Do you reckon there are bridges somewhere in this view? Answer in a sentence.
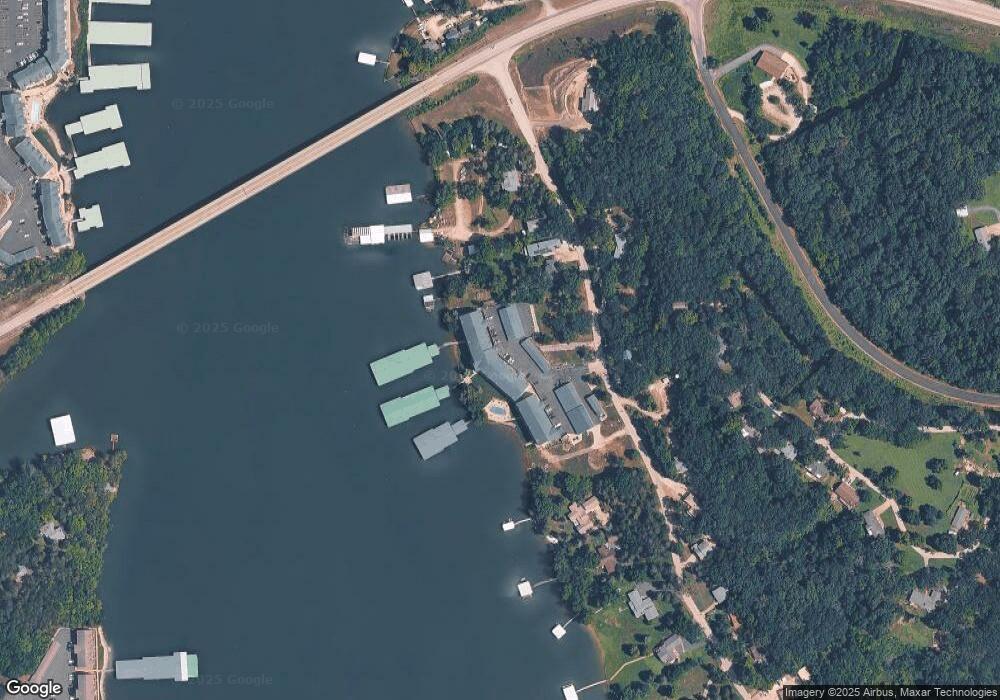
Yes, the image includes a bridge.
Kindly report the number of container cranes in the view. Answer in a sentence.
No container cranes are visible.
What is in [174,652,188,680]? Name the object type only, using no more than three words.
pier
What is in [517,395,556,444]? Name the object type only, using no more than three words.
building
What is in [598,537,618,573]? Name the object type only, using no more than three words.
house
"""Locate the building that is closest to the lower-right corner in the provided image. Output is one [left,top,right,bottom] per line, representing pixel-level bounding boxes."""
[910,589,942,612]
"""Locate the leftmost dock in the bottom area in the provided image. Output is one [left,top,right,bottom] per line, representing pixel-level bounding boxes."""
[51,414,76,455]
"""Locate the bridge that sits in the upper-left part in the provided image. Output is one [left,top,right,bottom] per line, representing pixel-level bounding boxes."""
[77,88,419,292]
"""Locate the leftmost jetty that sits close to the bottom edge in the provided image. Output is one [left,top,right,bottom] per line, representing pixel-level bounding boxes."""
[104,655,175,679]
